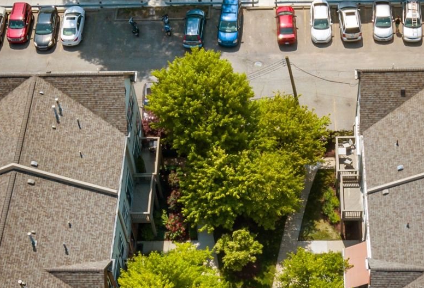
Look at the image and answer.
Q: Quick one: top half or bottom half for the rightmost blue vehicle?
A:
top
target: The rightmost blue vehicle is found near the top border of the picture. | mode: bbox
[215,0,240,45]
